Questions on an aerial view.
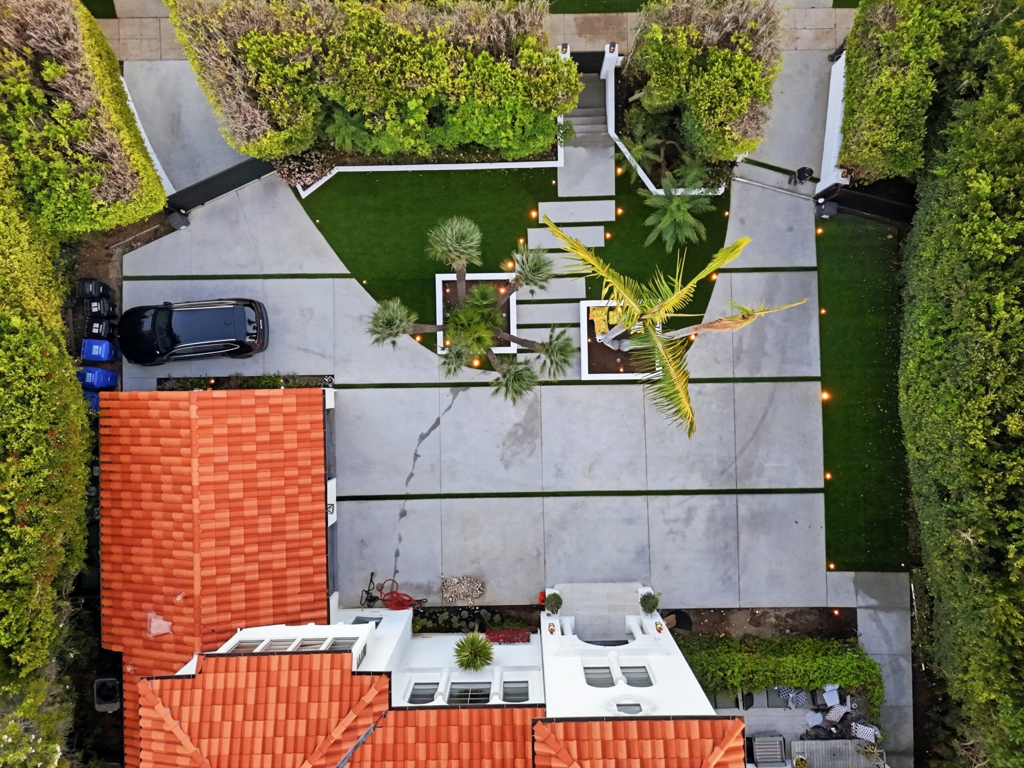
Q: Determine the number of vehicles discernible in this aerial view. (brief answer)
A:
1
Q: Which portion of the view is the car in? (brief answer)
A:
left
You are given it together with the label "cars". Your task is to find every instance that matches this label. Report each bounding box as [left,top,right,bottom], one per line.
[118,298,271,369]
